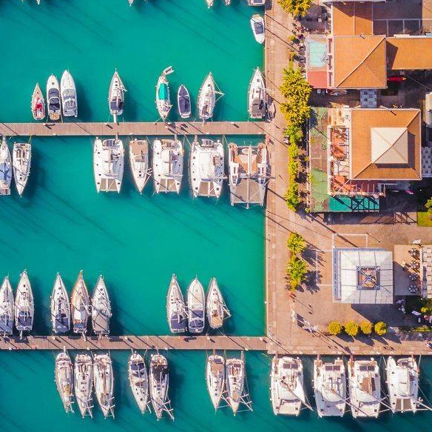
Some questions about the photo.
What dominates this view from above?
water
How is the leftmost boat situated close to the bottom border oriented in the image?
vertically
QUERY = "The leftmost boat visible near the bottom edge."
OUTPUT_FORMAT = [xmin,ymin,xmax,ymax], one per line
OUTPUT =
[51,347,75,414]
